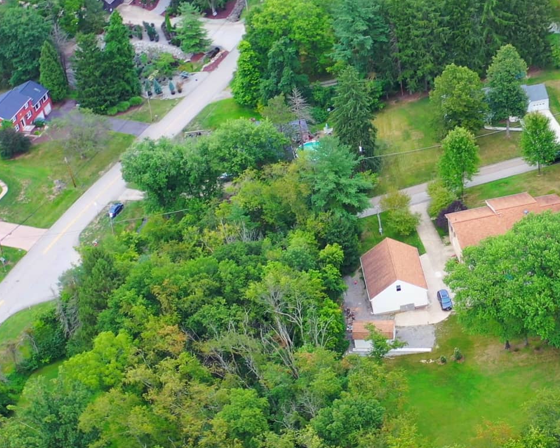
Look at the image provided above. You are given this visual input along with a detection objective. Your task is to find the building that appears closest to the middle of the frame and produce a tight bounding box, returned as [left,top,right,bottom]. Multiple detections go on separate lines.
[282,118,313,143]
